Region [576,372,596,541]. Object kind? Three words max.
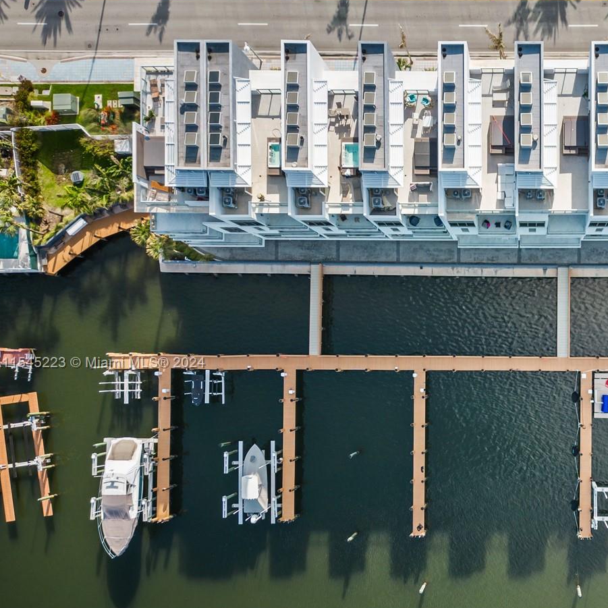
pier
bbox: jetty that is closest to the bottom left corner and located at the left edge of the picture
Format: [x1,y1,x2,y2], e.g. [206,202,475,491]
[0,392,76,522]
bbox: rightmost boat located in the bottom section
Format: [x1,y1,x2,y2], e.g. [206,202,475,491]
[241,444,269,525]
